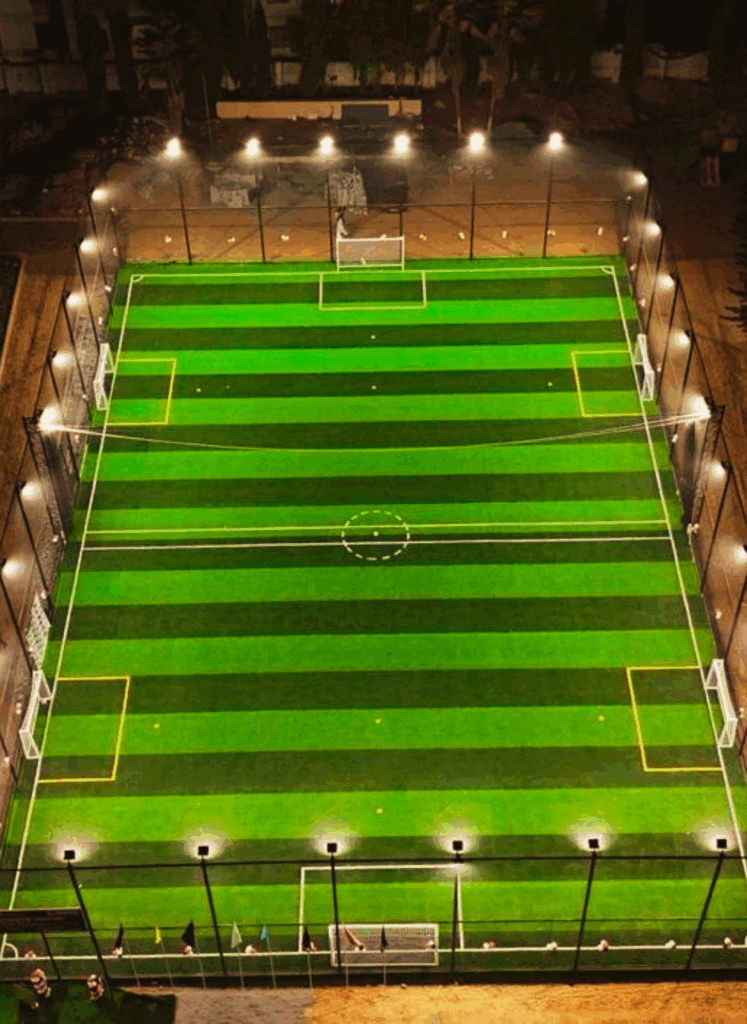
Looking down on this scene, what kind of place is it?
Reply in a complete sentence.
The picture captures a sports ground.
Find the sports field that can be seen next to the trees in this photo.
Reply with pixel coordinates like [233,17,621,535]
[0,255,747,979]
